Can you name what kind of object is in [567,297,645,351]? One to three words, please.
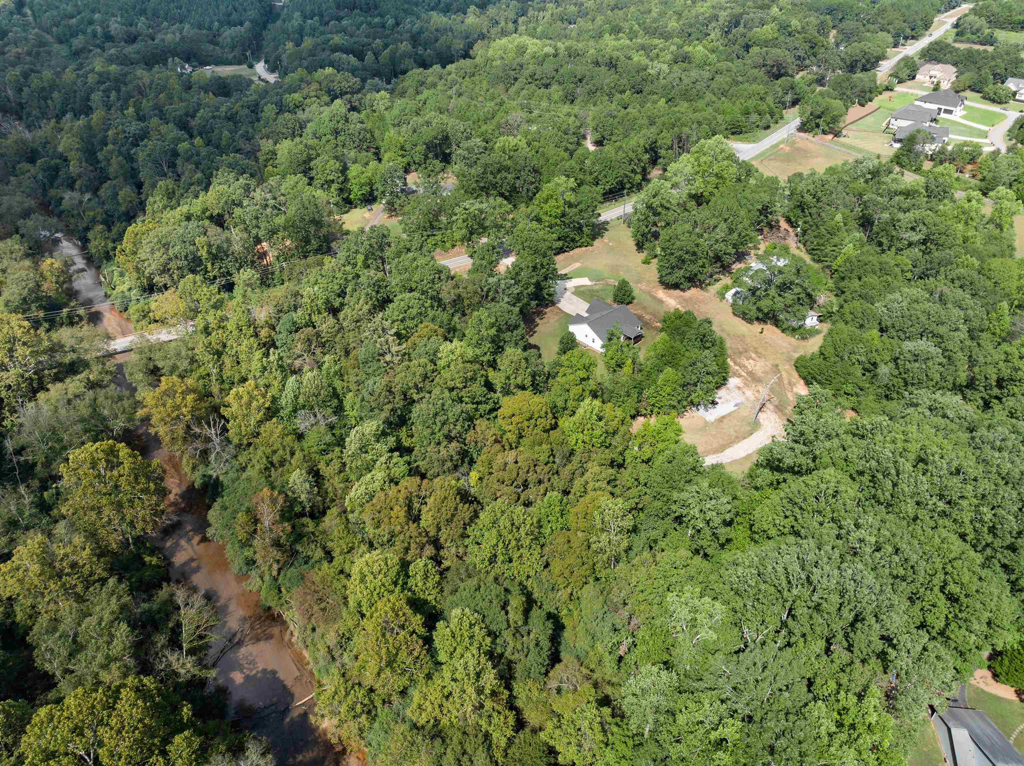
house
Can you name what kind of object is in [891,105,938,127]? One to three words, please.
house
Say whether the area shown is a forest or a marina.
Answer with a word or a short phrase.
forest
